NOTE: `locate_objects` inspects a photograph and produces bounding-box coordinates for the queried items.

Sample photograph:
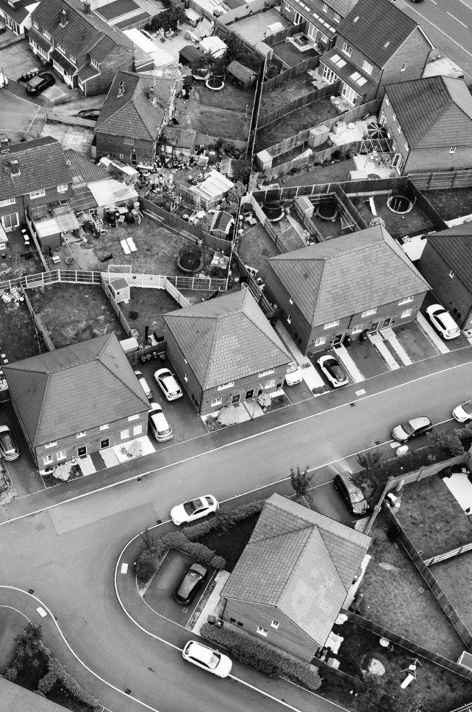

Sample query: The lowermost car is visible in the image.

[180,639,234,679]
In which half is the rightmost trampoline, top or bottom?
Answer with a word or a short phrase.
top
